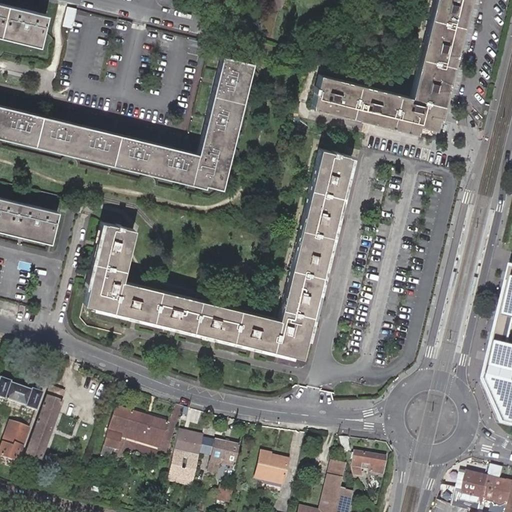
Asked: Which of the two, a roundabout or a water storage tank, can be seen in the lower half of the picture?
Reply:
roundabout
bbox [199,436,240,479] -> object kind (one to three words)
house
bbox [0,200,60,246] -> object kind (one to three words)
building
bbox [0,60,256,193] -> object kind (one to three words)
building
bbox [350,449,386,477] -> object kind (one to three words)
house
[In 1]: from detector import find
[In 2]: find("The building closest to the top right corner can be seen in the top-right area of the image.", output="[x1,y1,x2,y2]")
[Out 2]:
[305,0,472,138]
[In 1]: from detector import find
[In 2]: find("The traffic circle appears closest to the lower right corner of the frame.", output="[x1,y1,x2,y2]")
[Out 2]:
[385,371,478,464]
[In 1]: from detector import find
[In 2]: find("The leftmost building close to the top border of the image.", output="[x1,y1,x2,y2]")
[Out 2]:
[0,6,50,51]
